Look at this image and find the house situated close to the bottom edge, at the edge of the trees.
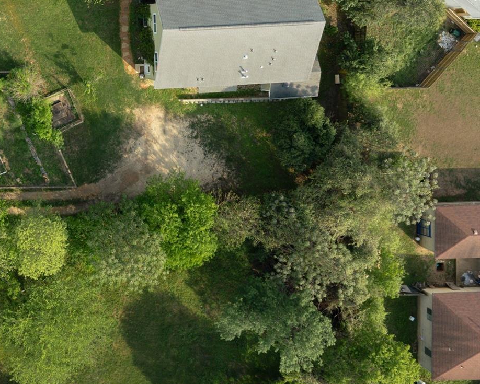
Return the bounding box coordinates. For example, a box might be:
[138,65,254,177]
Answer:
[418,288,480,381]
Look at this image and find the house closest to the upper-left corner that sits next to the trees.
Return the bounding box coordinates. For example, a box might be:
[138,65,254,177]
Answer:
[131,0,325,100]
